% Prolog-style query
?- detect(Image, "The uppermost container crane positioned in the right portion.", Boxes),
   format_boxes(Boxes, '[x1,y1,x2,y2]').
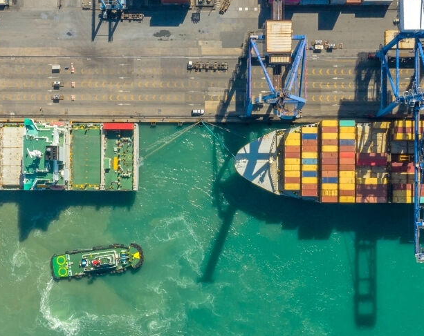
[236,0,307,118]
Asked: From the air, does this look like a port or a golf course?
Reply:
port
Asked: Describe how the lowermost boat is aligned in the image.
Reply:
from left to right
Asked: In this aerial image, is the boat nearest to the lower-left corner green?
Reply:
Yes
